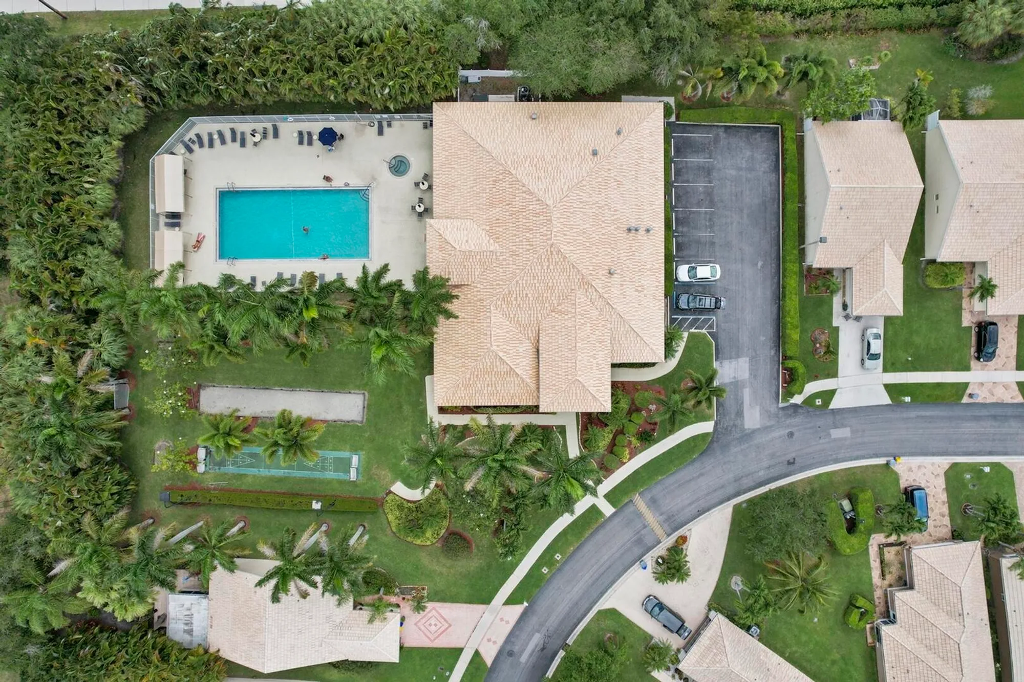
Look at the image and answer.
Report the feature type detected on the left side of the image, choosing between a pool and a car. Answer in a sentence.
The one visible on the left side of the image is a pool.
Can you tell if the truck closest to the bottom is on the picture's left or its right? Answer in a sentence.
The truck closest to the bottom sits on the right side.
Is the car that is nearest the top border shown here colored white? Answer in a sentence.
Yes, white is the color of the car that is nearest the top border.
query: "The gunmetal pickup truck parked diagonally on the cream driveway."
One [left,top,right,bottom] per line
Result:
[643,594,693,642]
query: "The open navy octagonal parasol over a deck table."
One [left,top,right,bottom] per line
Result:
[320,128,337,145]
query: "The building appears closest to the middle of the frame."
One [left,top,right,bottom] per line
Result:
[425,100,665,413]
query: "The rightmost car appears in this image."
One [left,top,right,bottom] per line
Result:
[973,322,998,362]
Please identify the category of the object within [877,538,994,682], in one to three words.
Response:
house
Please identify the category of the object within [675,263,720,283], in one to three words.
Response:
car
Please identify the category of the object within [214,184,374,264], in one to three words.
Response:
swimming pool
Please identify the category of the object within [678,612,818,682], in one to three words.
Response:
house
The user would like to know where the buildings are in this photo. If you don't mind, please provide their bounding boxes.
[425,100,665,413]
[925,119,1024,314]
[209,560,401,673]
[678,612,818,682]
[986,549,1024,682]
[805,120,926,316]
[877,538,994,682]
